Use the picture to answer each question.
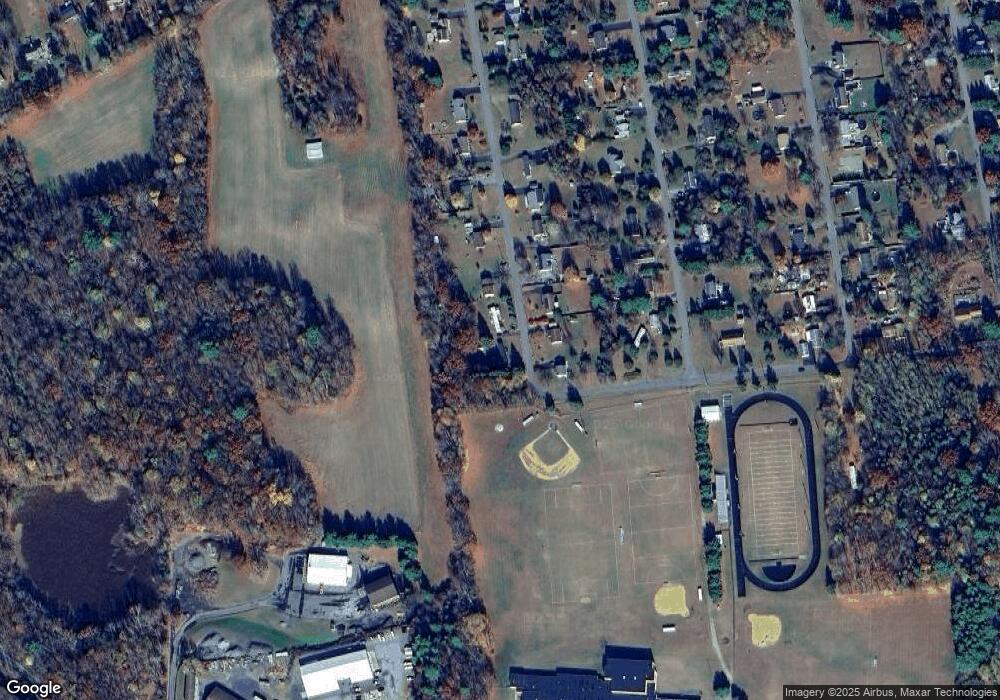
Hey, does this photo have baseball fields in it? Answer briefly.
Yes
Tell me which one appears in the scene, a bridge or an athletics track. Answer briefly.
athletics track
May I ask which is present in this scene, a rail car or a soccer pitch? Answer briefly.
soccer pitch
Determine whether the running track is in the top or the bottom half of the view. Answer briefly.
bottom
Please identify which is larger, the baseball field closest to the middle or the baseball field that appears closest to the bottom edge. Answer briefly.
the baseball field closest to the middle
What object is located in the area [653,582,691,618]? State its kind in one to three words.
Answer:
baseball field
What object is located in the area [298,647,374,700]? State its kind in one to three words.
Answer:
building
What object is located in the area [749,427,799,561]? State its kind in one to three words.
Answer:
sports field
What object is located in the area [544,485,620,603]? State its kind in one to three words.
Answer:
soccer field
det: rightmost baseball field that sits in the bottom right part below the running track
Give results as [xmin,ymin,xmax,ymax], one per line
[745,612,784,649]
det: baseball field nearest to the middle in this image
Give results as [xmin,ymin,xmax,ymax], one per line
[516,422,584,484]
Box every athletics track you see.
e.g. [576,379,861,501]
[726,391,820,597]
